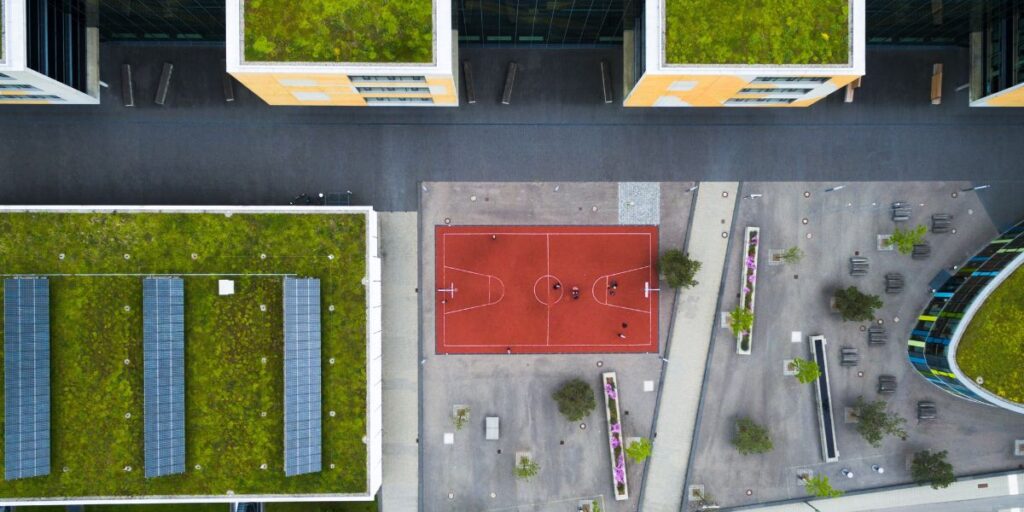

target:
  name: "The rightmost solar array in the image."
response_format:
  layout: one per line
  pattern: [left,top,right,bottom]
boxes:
[282,275,321,480]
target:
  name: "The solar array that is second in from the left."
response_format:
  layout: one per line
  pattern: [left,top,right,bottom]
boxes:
[142,275,186,479]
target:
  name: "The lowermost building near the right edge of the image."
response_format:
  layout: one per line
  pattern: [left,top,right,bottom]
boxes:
[907,221,1024,414]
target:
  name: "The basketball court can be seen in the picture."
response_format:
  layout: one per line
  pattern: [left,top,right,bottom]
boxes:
[435,225,659,355]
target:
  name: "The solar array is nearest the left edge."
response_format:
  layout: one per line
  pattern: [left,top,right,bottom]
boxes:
[4,275,52,480]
